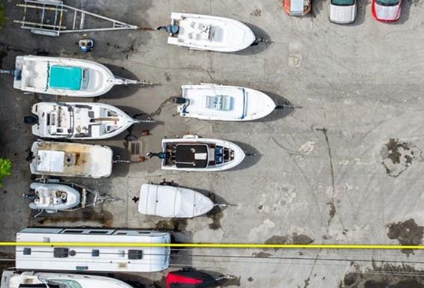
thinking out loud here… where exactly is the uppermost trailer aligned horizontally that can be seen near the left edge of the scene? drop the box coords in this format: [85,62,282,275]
[19,0,147,35]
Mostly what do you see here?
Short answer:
paved ground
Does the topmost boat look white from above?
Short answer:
Yes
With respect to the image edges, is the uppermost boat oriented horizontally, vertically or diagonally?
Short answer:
horizontally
